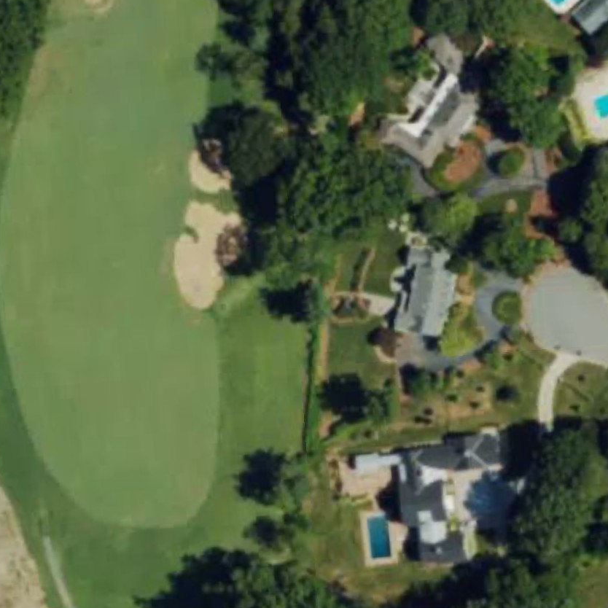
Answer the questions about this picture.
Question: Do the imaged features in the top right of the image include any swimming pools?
Yes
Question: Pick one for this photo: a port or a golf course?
golf course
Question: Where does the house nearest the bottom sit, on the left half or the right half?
right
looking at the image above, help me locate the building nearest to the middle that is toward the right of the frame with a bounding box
[395,244,453,339]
